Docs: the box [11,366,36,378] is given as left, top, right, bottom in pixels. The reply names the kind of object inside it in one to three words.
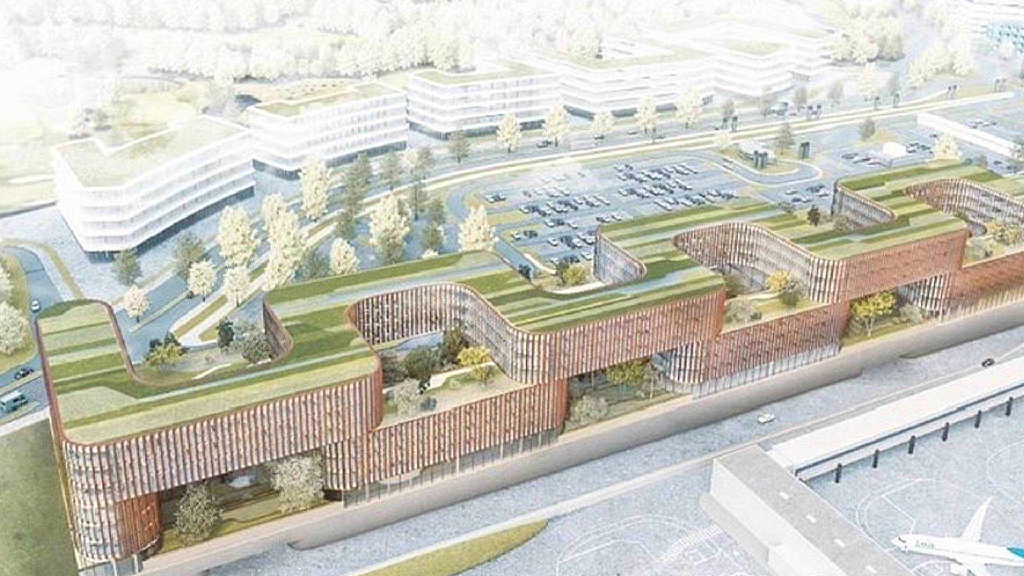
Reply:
vehicle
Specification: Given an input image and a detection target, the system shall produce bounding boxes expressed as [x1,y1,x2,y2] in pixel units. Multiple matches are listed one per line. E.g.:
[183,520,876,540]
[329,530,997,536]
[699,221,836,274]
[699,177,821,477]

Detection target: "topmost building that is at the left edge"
[51,116,253,259]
